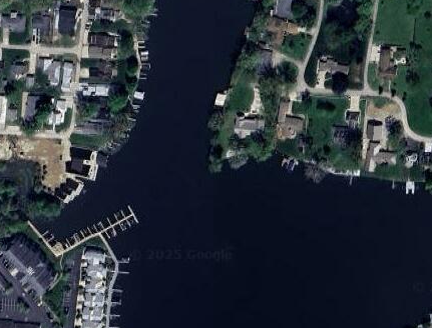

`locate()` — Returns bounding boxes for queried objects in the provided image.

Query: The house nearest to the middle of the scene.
[235,118,264,139]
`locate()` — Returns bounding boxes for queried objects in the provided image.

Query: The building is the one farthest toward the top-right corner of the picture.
[376,45,400,74]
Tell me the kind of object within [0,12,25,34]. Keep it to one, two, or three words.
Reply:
house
